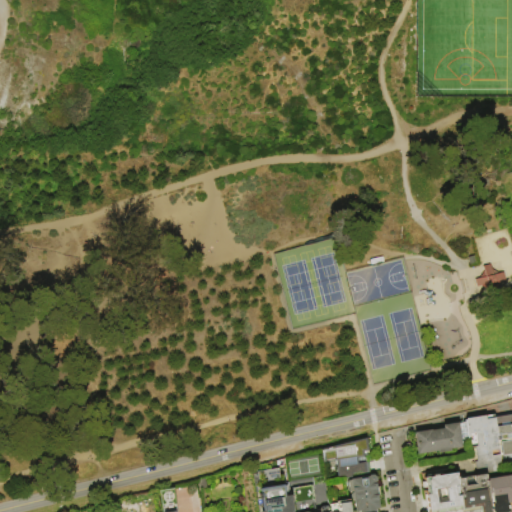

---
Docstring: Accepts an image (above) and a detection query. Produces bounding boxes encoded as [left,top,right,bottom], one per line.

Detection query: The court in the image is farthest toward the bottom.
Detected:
[288,456,322,478]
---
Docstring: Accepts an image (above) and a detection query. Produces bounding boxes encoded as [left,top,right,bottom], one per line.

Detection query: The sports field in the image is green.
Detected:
[418,0,512,95]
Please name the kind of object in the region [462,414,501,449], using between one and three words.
house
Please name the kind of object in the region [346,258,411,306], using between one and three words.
basketball court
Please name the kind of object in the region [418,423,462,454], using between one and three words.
house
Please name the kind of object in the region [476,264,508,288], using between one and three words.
building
